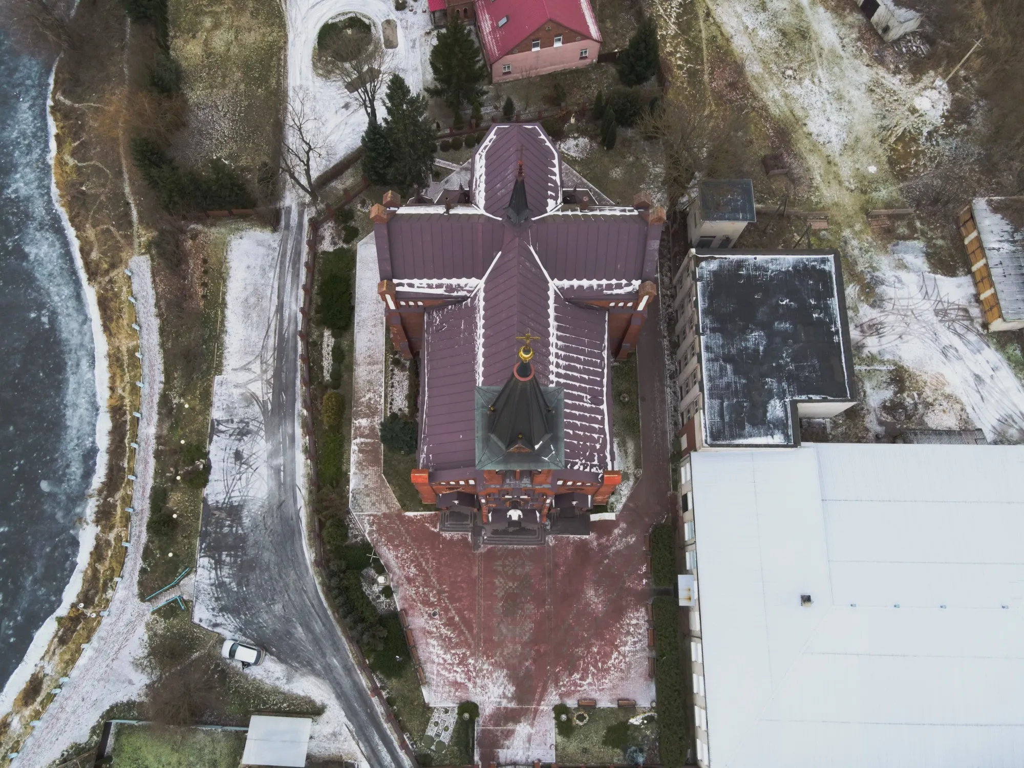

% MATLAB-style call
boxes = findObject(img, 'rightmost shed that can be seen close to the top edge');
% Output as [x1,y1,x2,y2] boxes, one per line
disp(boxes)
[859,0,919,43]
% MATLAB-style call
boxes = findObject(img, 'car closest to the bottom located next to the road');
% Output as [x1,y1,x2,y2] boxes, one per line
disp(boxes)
[218,641,270,675]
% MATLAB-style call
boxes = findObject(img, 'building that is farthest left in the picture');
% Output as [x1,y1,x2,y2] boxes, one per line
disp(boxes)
[242,713,317,767]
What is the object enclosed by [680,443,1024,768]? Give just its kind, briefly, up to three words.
building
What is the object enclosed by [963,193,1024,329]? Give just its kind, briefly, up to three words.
building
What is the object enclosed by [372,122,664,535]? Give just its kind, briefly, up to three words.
church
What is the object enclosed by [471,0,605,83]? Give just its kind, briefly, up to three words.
house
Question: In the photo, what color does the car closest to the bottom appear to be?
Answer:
white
